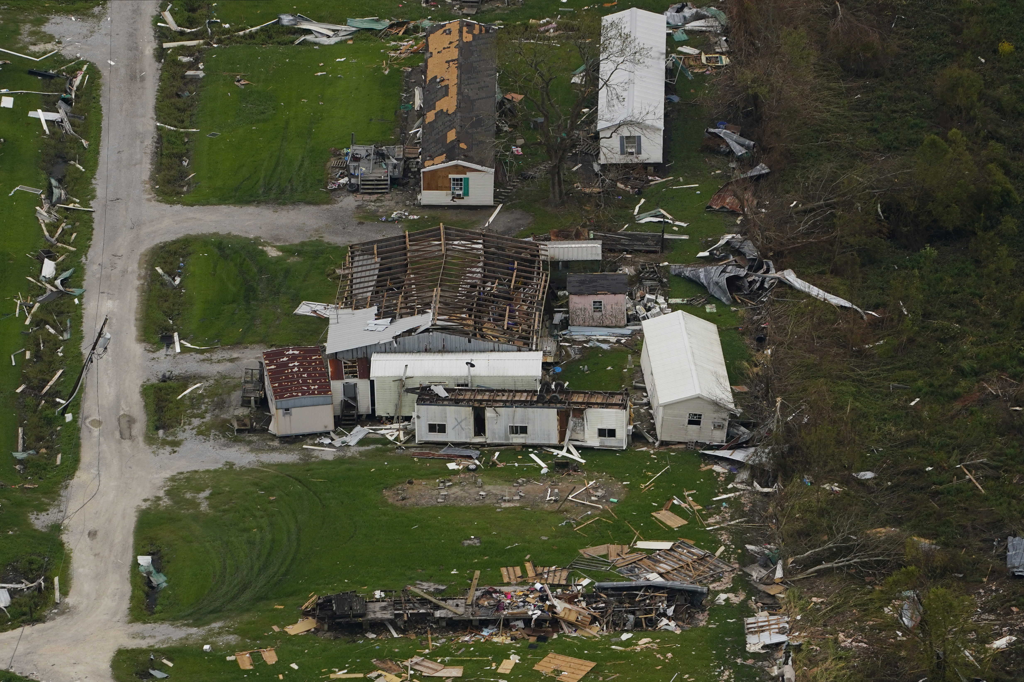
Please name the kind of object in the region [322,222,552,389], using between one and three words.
barn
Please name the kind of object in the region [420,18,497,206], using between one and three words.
house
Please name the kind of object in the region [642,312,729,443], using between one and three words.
house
